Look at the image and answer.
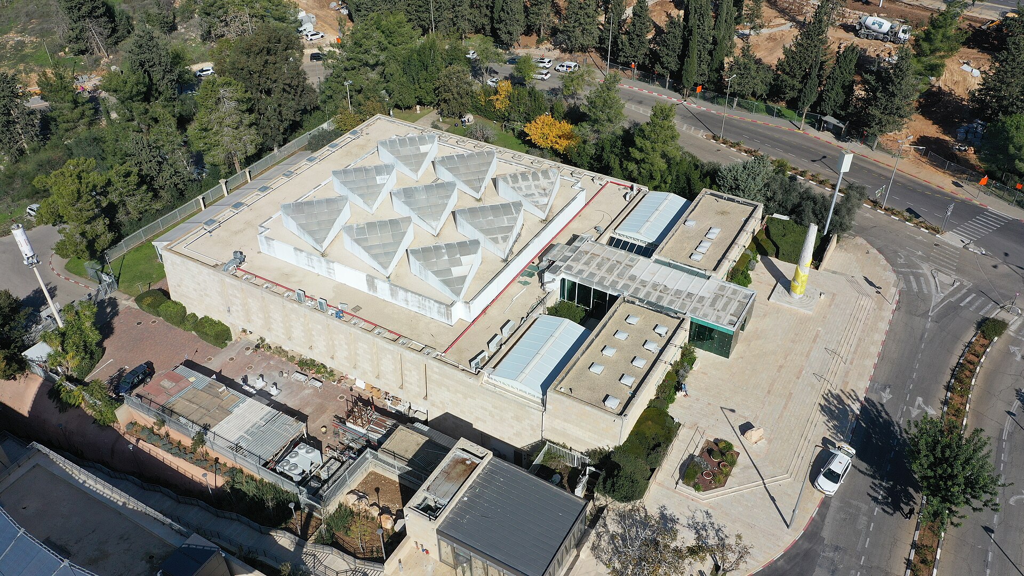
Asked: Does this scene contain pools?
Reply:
No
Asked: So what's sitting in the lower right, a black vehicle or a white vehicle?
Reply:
white vehicle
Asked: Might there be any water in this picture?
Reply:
No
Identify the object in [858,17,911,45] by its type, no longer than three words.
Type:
truck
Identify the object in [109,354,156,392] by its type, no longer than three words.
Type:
car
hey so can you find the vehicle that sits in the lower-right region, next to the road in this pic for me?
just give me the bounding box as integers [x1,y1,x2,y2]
[817,440,861,495]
